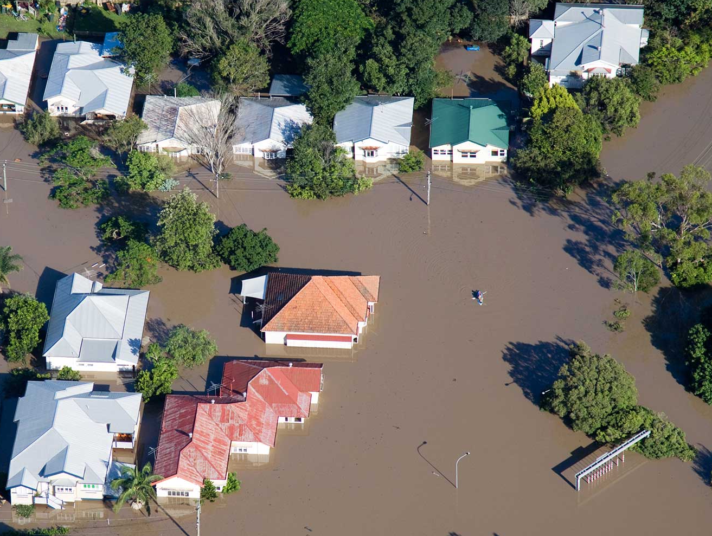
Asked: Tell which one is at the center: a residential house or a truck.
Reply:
residential house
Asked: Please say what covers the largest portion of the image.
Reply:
water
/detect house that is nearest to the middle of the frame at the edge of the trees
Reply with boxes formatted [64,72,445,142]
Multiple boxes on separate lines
[241,272,380,350]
